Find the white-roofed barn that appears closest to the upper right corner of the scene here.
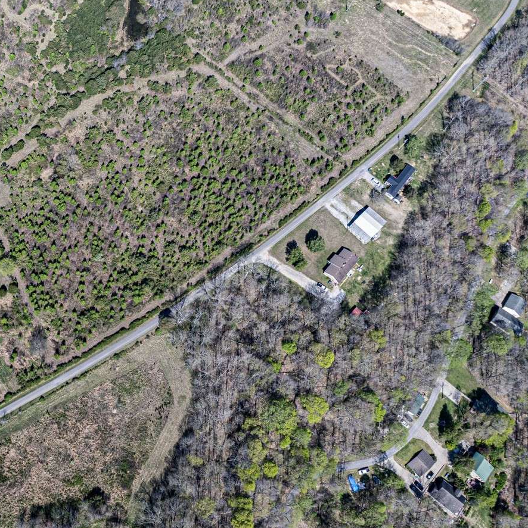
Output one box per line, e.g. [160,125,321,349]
[348,209,386,244]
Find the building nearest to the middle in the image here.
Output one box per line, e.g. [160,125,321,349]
[322,250,361,288]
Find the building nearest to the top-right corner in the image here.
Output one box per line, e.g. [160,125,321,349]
[383,163,416,204]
